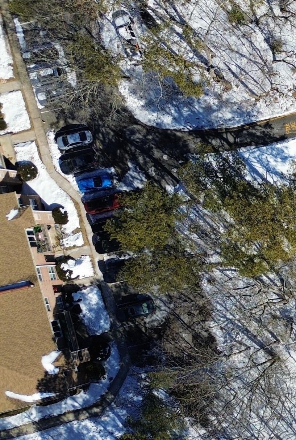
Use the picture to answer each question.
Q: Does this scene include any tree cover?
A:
Yes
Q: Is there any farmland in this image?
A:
No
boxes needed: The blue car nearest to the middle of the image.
[76,172,116,190]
